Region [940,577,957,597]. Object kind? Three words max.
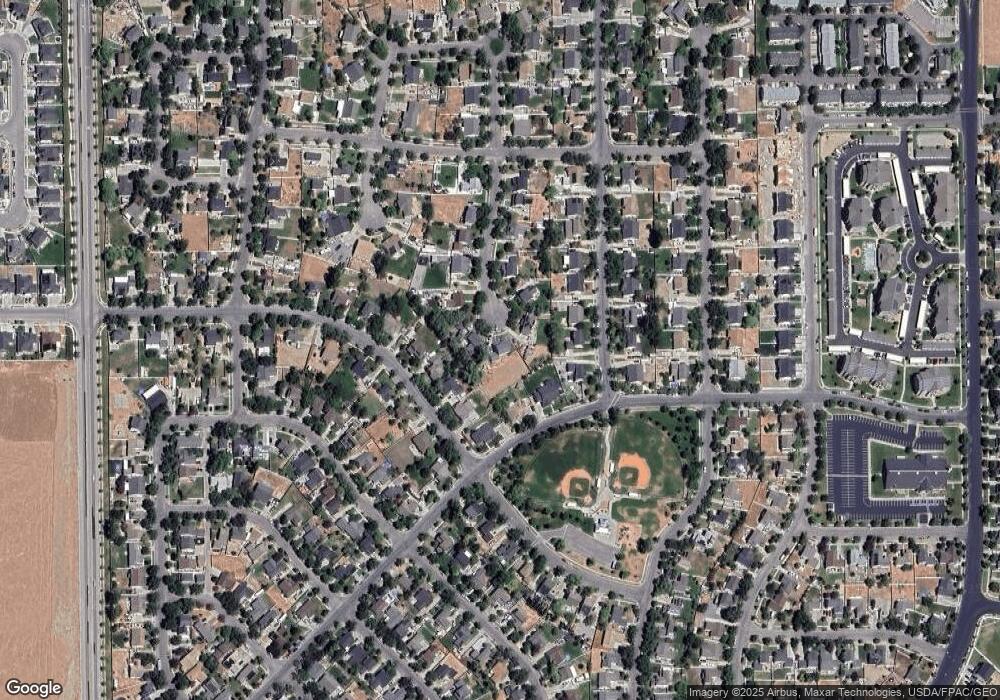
house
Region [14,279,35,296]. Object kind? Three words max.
house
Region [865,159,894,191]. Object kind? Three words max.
building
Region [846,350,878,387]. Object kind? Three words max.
building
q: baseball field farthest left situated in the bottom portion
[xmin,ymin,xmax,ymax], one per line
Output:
[534,432,598,504]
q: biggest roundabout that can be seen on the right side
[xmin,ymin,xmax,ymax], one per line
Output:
[908,243,938,274]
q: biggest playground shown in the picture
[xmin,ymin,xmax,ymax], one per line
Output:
[618,521,643,547]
